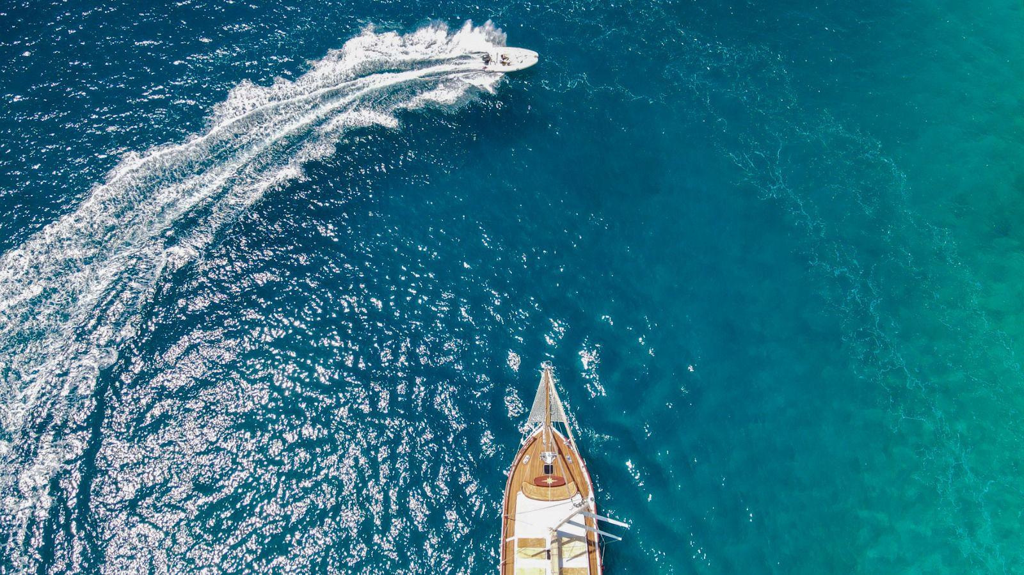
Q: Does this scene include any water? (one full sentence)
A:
Yes, water shows up in the scene.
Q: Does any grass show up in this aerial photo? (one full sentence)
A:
No, grass can't be seen anywhere here.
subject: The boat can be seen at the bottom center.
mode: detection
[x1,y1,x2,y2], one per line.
[498,365,629,575]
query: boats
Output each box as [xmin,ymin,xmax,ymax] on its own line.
[498,365,629,575]
[479,48,539,72]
